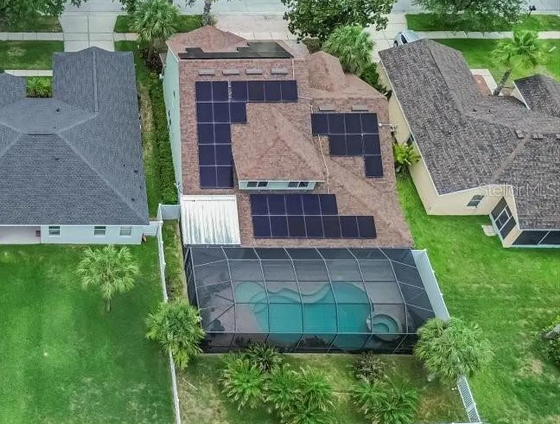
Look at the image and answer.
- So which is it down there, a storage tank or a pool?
pool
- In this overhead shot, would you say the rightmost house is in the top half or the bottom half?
top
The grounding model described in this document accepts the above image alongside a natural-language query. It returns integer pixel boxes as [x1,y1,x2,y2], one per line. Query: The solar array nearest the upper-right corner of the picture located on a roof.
[312,112,388,177]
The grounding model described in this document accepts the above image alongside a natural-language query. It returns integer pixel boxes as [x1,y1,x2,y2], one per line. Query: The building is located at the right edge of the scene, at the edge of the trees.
[378,38,560,248]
